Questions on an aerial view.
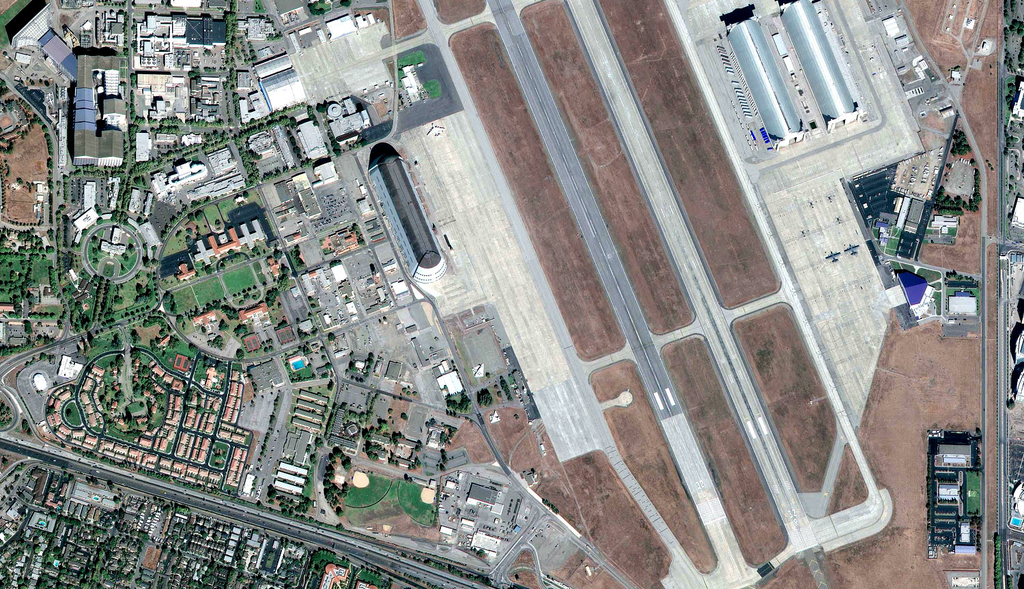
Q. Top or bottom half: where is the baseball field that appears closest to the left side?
bottom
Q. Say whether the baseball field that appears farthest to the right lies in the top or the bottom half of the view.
bottom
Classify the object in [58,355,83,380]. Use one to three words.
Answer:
building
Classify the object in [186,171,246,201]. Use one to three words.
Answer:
building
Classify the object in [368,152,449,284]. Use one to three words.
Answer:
hangar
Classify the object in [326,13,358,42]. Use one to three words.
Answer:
hangar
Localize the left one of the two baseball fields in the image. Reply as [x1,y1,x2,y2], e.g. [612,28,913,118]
[345,472,391,509]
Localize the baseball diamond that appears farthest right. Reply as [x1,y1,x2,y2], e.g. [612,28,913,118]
[398,482,438,525]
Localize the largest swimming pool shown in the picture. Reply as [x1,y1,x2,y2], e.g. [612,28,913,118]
[289,356,309,371]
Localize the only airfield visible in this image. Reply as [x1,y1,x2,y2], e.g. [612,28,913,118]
[257,0,925,589]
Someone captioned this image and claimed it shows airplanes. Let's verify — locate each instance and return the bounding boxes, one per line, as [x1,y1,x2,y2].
[824,251,841,262]
[428,124,445,138]
[843,244,860,255]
